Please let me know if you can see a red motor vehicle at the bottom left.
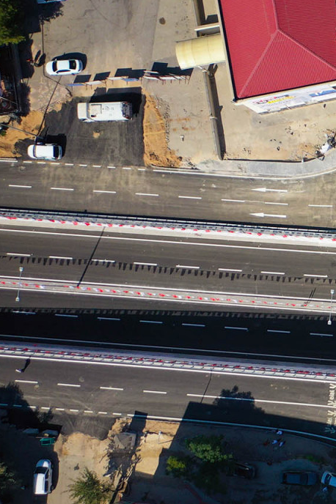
No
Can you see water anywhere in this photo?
No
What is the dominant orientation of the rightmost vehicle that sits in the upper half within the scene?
from side to side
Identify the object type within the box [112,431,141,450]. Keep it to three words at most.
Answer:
shed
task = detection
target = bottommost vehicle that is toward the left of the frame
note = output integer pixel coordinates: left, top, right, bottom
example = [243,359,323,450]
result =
[32,458,54,495]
